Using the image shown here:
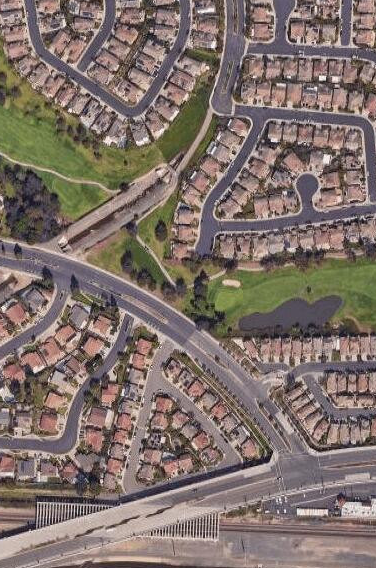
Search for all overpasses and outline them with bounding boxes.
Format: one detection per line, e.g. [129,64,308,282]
[0,460,276,568]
